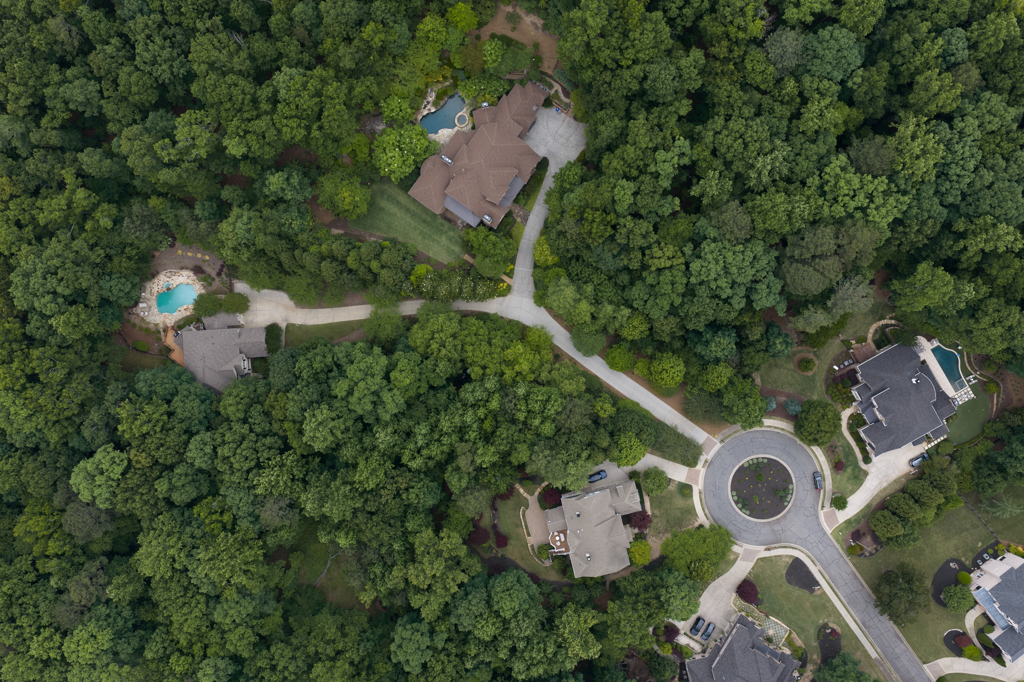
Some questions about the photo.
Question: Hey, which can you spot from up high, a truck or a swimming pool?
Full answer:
This aerial view contains a swimming pool.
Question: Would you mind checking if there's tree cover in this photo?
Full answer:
Yes, tree cover shows up in the scene.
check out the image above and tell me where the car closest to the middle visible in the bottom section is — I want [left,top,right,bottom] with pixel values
[589,471,607,484]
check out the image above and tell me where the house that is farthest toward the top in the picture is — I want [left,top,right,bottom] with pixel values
[408,80,550,228]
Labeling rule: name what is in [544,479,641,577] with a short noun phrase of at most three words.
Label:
house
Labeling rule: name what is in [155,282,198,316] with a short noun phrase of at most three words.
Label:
swimming pool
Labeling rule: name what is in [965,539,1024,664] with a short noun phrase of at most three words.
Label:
house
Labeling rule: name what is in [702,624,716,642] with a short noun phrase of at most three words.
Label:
car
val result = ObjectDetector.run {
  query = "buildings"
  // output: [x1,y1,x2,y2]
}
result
[965,539,1024,664]
[544,479,641,577]
[848,341,960,458]
[685,607,802,682]
[160,307,271,396]
[408,80,550,228]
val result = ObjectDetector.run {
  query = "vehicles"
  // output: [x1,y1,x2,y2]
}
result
[911,453,928,469]
[691,618,705,637]
[814,473,825,491]
[589,471,607,484]
[702,624,716,642]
